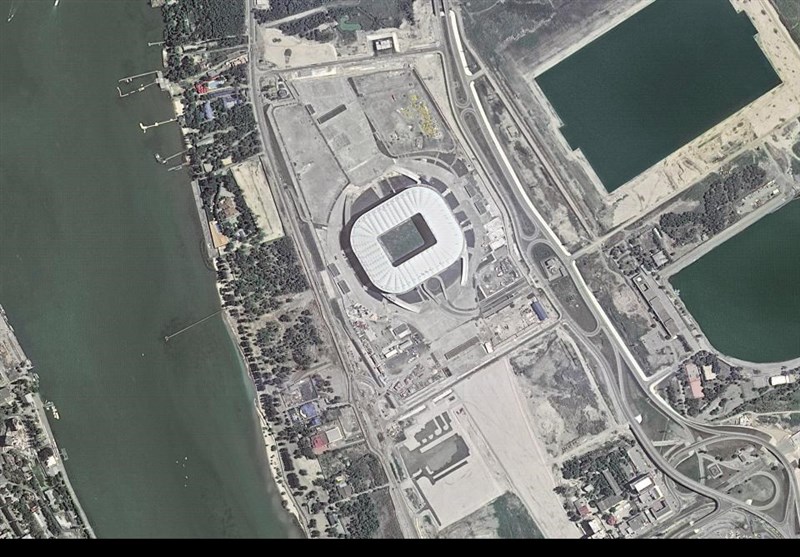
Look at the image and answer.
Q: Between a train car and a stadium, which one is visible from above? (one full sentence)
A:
Looking from above, you can make out a stadium.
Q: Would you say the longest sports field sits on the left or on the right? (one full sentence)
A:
The longest sports field appears in the left half of the scene.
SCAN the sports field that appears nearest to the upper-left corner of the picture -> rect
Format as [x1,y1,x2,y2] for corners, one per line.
[232,155,284,243]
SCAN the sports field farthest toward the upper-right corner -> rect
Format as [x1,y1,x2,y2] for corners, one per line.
[378,214,436,266]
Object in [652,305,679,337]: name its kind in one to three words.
building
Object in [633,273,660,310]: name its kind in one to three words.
building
